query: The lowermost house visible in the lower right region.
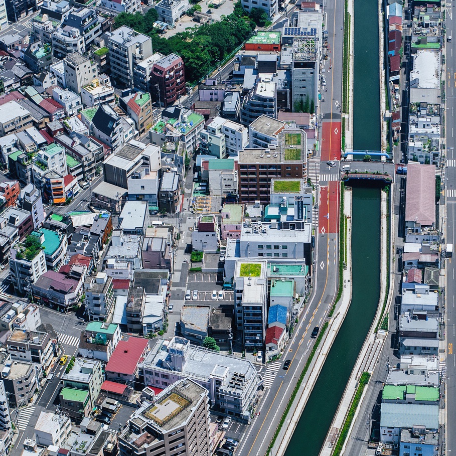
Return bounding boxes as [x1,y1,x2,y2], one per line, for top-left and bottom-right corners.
[400,429,440,456]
